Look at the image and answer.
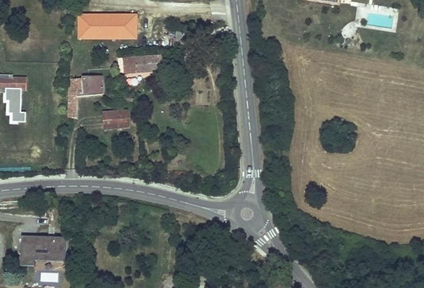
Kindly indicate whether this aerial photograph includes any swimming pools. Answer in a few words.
Yes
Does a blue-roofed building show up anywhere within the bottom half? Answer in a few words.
No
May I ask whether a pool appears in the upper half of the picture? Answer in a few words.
Yes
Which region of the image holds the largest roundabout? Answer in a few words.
bottom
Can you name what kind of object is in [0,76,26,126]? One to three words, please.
house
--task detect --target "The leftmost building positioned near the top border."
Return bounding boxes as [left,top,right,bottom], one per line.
[77,13,138,40]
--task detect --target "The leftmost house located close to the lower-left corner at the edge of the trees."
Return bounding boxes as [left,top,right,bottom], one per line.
[20,235,66,266]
